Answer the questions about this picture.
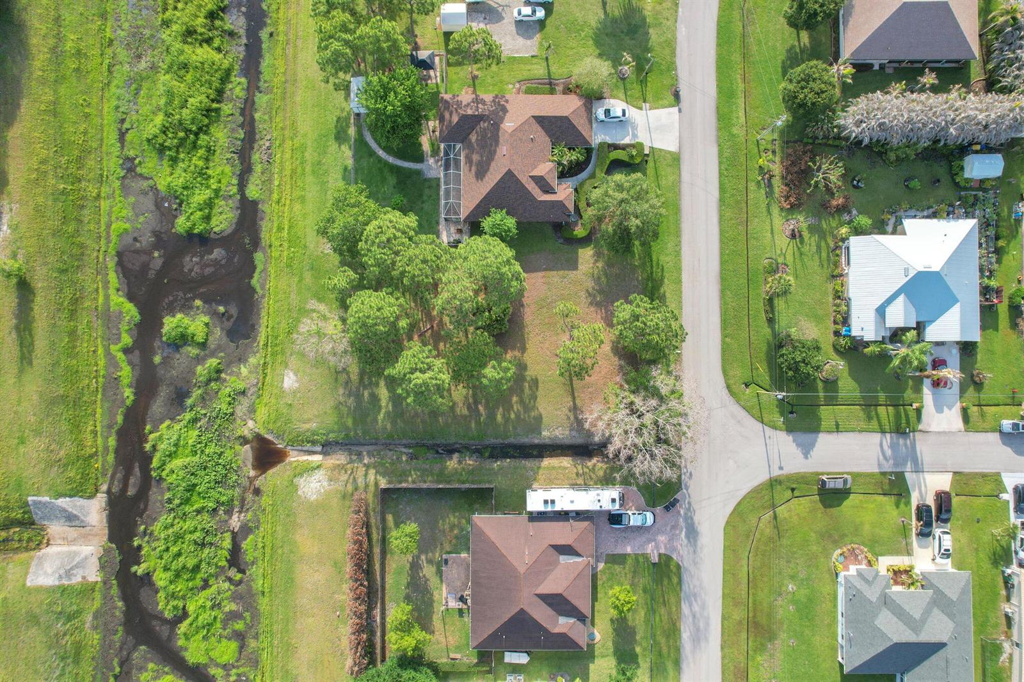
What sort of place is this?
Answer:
residential area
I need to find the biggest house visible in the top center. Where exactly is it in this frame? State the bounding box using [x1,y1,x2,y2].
[439,95,593,222]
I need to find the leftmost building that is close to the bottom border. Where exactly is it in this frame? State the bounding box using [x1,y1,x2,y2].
[470,514,595,651]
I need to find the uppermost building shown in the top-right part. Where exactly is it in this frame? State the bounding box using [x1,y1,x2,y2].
[838,0,978,69]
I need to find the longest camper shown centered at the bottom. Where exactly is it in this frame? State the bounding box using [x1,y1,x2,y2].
[527,485,621,511]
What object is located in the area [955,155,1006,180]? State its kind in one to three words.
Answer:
shed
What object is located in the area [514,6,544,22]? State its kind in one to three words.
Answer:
car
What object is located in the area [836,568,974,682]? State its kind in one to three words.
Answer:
house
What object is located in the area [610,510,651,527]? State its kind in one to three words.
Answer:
vehicle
